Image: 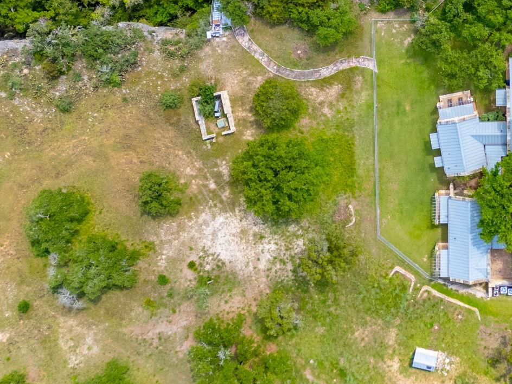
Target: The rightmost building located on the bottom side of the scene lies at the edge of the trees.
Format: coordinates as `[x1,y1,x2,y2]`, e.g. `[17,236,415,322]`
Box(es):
[440,185,512,296]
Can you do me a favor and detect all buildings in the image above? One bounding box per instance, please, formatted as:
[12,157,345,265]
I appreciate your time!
[413,340,439,377]
[430,98,507,177]
[440,185,512,296]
